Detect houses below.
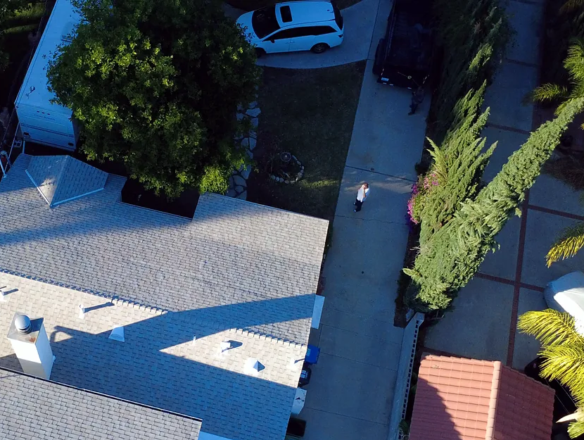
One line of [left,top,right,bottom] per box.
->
[406,354,558,440]
[0,151,329,440]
